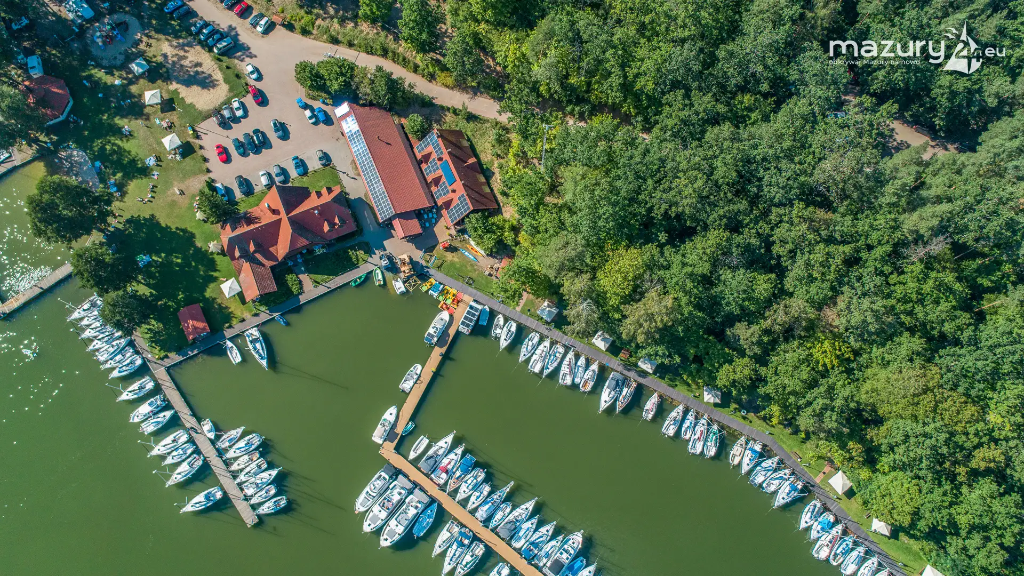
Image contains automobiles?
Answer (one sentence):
Yes, an automobile can be made out from above.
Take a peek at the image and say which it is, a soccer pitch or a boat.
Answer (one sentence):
This aerial view contains a boat.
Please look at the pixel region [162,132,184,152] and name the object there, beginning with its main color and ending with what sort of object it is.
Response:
white gazebo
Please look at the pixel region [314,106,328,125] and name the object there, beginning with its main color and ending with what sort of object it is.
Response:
blue car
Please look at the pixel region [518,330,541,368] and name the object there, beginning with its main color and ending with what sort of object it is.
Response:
white boat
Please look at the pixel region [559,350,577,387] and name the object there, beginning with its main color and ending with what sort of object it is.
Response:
white boat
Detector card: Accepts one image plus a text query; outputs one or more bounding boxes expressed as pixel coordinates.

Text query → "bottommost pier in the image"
[380,450,544,576]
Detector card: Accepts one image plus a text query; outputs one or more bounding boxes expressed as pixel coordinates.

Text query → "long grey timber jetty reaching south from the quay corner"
[154,369,259,527]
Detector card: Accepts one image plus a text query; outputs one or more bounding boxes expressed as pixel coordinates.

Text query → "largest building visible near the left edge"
[25,80,79,126]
